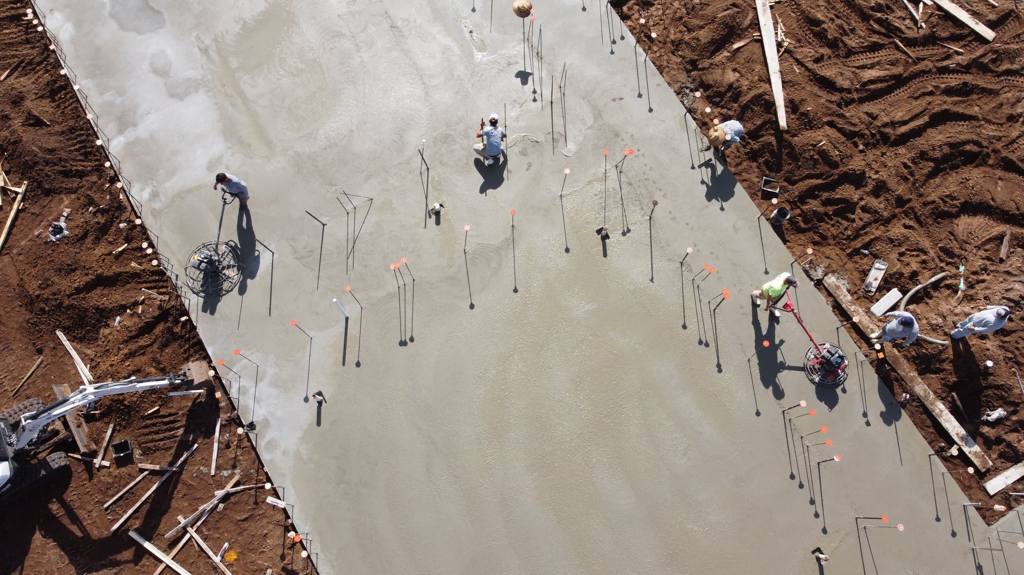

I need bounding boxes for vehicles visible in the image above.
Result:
[0,358,216,525]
